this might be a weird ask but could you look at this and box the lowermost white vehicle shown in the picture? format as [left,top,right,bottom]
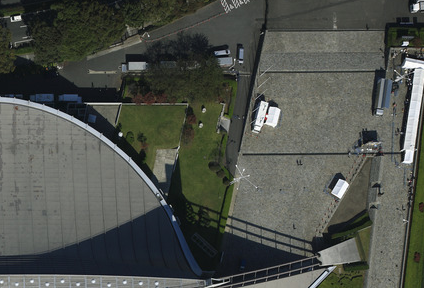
[252,100,269,134]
